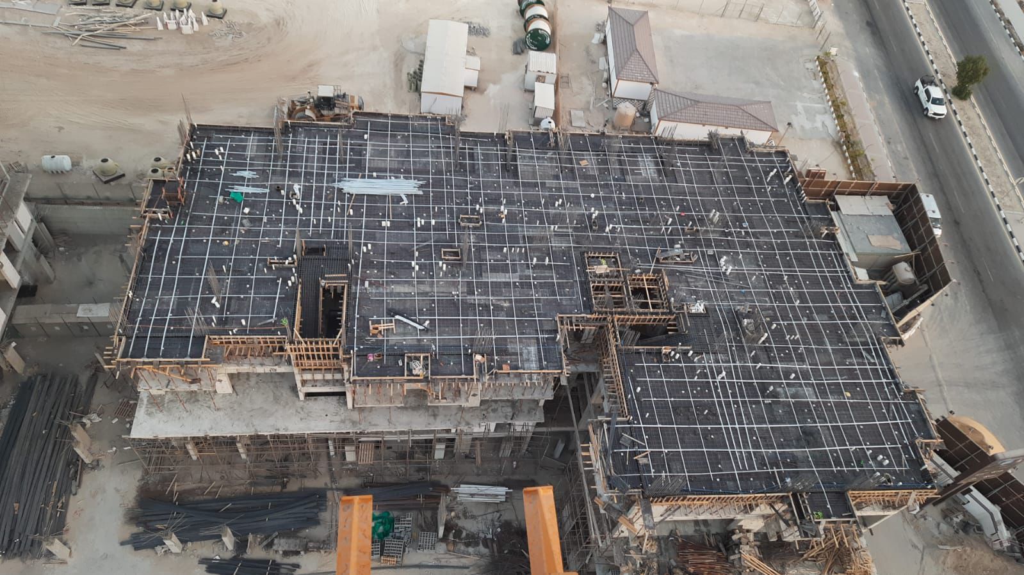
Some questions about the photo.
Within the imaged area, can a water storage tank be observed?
Yes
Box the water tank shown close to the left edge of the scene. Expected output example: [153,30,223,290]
[39,158,75,182]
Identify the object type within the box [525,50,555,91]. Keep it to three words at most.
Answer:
building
